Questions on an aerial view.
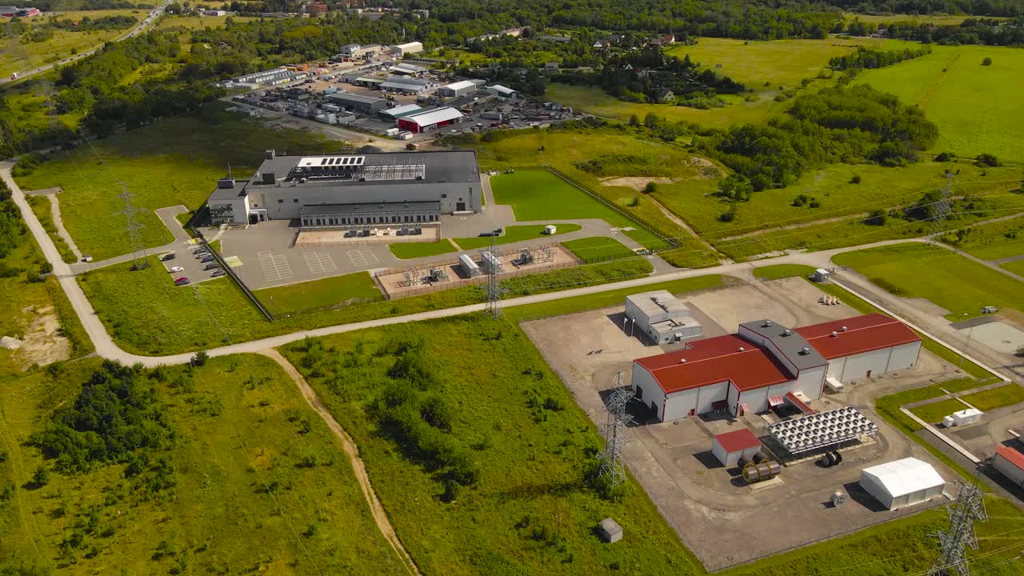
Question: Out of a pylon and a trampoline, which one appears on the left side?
pylon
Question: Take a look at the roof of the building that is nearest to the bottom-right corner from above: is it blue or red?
red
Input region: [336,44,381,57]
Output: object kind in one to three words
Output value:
building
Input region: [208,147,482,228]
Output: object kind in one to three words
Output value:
building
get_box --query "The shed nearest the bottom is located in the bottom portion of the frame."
[596,516,622,542]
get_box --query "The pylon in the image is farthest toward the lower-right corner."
[926,469,999,576]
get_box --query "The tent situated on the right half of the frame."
[858,457,946,510]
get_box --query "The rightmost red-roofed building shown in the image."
[991,443,1024,487]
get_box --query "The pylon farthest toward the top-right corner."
[918,172,958,246]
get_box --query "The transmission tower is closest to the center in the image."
[474,230,512,323]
